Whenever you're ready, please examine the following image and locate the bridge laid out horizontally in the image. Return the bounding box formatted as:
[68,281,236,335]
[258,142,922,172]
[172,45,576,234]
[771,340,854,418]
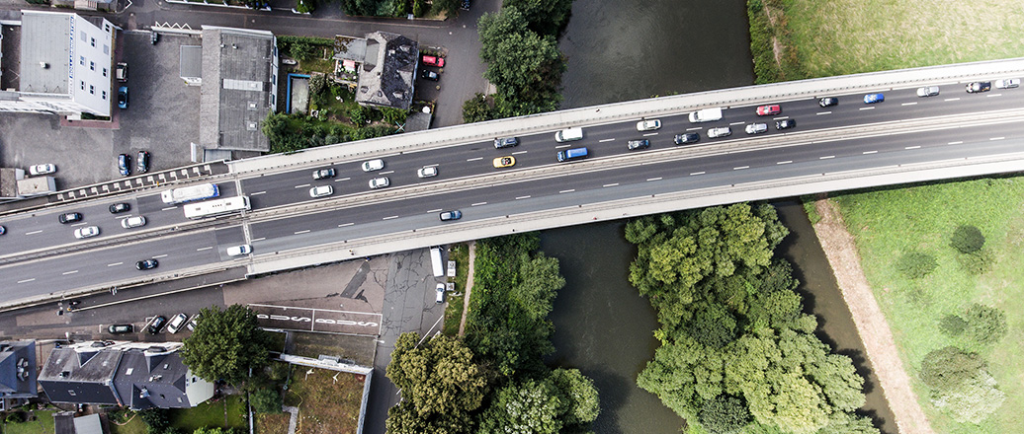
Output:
[231,57,1024,277]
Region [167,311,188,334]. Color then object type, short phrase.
white car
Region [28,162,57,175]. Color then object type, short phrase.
white vehicle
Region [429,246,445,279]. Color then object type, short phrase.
white vehicle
